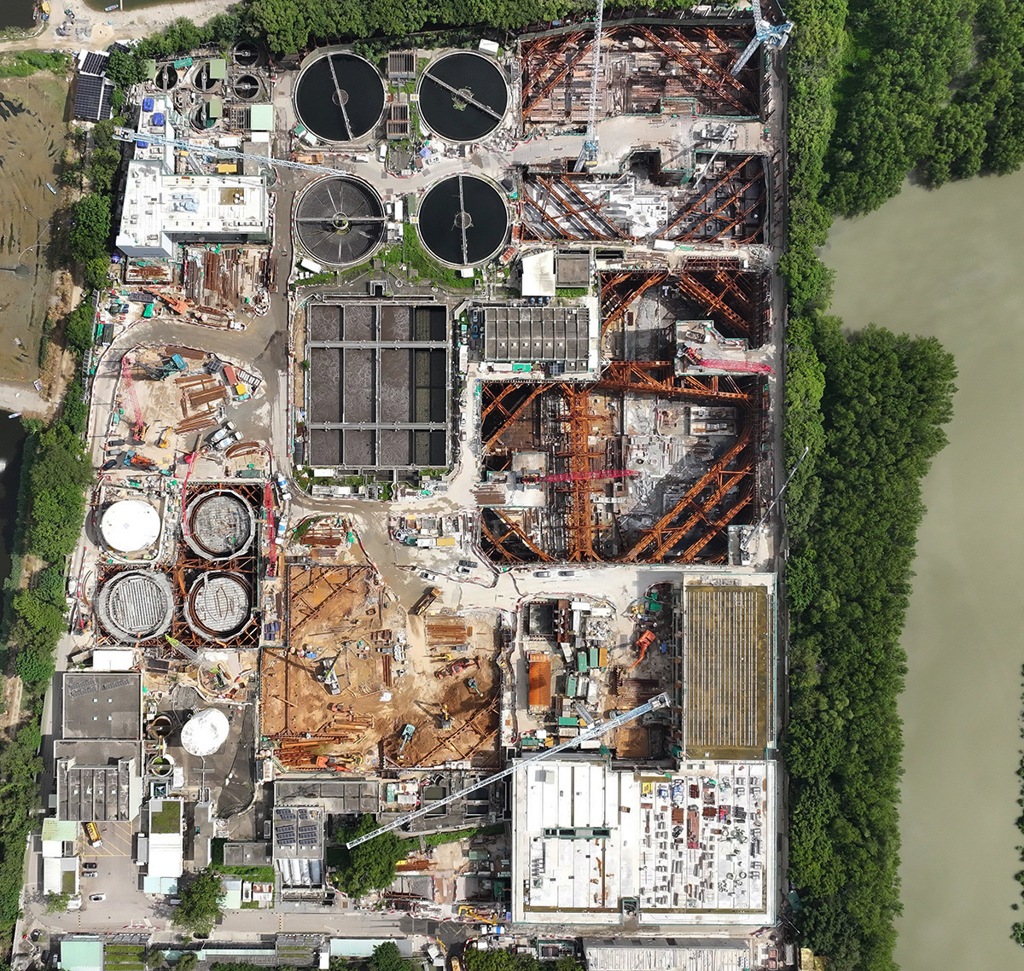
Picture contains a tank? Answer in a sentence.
Yes, there is a tank in the image.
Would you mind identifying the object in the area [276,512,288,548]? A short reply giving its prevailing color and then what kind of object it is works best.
white vehicle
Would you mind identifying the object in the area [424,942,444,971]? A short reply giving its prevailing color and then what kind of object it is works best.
white vehicle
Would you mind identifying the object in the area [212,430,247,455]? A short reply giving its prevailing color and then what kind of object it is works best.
white truck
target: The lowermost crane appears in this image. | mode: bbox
[348,696,671,848]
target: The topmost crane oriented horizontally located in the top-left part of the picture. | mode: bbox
[114,127,346,179]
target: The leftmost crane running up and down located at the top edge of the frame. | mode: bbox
[562,0,604,187]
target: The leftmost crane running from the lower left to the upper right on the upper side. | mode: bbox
[690,110,740,184]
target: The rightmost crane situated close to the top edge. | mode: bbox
[722,0,797,91]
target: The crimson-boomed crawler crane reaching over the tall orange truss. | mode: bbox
[515,469,641,492]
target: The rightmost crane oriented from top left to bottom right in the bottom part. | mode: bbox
[165,629,235,698]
